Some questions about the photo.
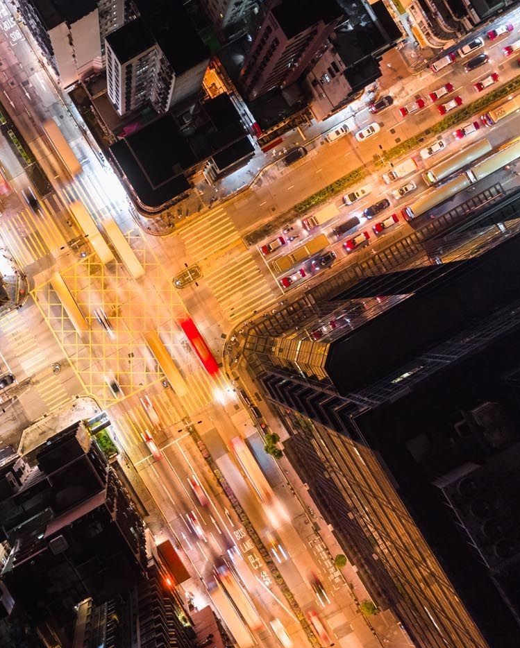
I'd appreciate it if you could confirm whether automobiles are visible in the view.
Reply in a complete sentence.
Yes, the image includes an automobile.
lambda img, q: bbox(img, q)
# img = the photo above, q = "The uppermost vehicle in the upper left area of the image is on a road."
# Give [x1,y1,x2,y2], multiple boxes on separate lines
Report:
[40,114,87,184]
